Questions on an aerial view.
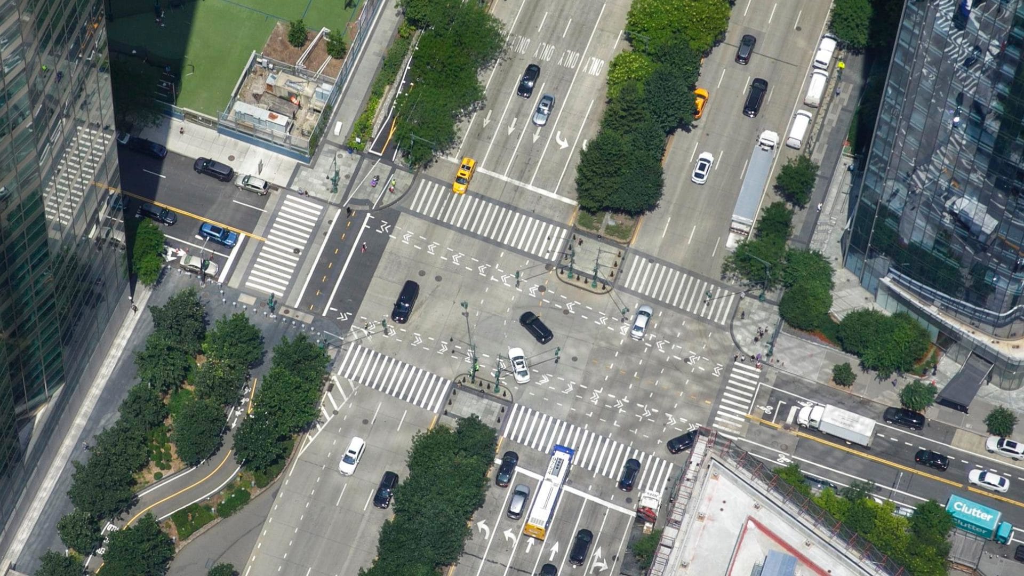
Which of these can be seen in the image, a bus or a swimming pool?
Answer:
bus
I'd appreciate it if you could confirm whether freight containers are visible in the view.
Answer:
Yes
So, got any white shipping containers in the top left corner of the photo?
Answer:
Yes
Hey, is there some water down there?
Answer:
No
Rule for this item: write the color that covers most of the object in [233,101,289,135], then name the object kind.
white shipping container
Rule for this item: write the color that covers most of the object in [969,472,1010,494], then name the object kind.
white car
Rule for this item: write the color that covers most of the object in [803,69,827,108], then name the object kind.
white vehicle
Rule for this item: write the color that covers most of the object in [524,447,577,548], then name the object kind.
white bus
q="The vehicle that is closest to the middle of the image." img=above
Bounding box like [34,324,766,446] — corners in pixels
[520,312,553,345]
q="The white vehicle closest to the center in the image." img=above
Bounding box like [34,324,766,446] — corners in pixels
[508,349,529,385]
